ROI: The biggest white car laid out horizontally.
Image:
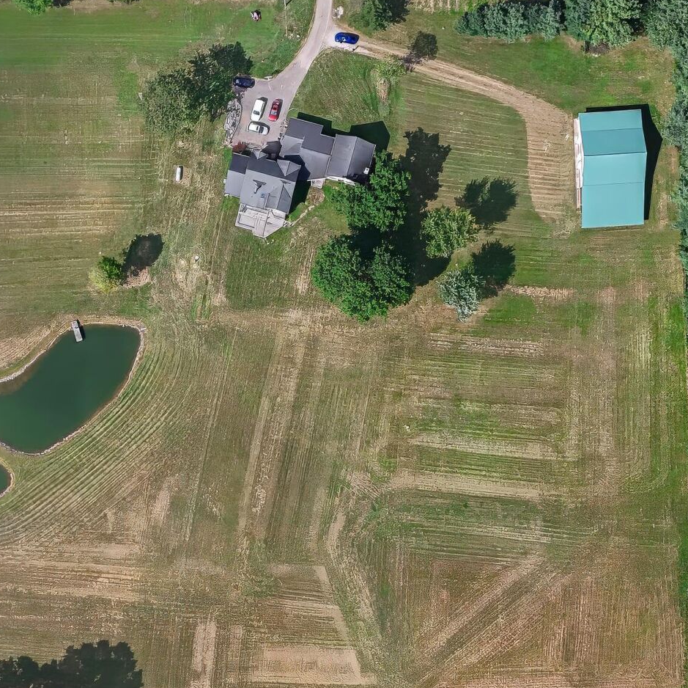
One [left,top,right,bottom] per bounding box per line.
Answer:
[247,122,269,135]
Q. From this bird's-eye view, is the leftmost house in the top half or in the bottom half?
top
